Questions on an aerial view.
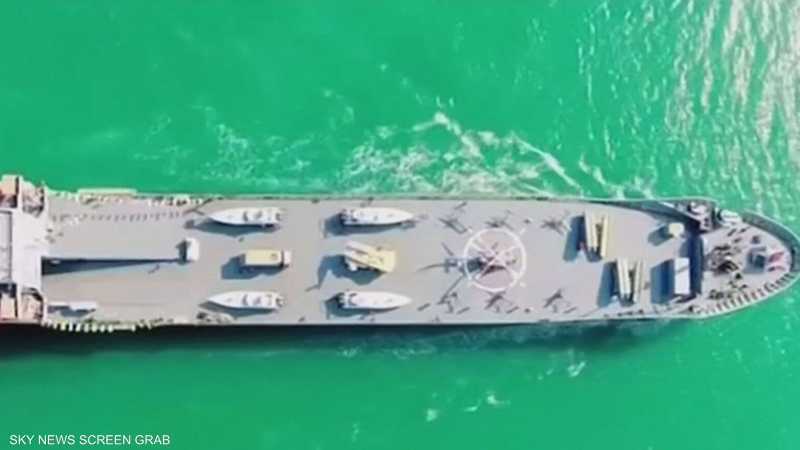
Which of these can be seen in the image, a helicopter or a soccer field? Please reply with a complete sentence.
I can see a helicopter in this picture.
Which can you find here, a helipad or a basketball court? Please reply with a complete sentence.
Looking from above, you can make out a helipad.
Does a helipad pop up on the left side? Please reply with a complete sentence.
No, looking on the left side, there is no helipad.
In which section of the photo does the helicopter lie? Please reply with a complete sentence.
The helicopter is located in the center region of the scene.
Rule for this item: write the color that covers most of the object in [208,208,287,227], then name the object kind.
white boat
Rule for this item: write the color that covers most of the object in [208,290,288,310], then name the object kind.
white boat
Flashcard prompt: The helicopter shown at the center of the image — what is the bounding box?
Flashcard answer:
[437,227,527,289]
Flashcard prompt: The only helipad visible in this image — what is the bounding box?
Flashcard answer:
[463,229,527,291]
